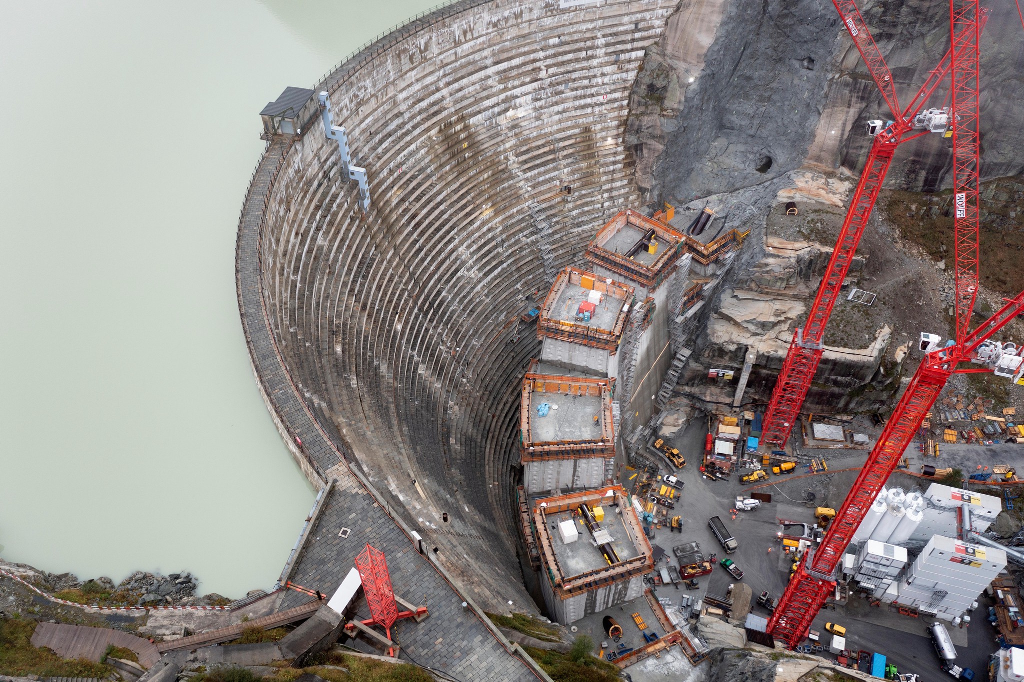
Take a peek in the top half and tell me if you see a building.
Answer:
Yes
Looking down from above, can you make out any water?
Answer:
Yes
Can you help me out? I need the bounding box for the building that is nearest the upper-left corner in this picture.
[249,87,312,146]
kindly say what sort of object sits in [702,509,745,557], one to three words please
truck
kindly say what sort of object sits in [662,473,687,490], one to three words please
vehicle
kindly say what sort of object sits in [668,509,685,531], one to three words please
work vehicle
